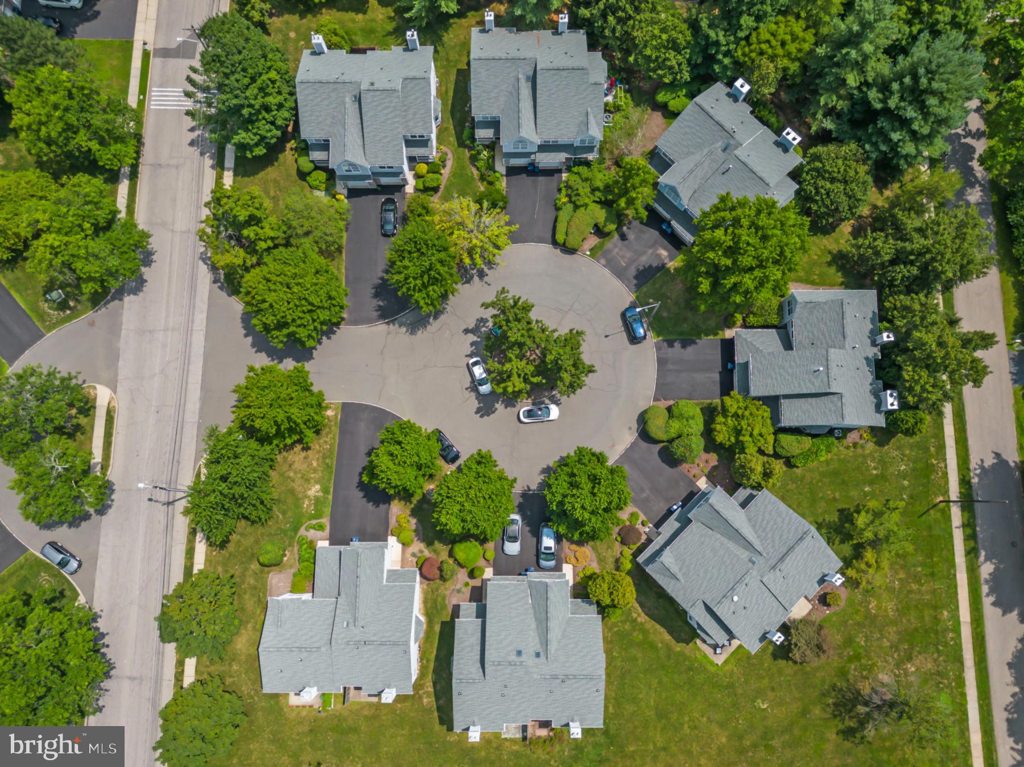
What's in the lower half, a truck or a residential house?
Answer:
residential house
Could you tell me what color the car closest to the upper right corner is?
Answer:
blue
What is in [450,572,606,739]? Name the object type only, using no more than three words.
house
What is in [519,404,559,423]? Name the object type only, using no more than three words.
car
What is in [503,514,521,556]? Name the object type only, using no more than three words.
car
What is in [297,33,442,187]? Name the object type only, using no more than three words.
house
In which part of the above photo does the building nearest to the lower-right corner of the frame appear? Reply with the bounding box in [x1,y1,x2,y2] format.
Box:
[634,485,843,654]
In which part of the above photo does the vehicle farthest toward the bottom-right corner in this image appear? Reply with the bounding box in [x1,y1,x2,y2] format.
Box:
[538,525,557,568]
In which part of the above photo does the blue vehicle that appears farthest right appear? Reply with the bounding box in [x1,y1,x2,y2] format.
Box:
[623,307,647,343]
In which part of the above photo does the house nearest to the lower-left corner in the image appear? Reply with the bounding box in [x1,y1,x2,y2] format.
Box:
[259,542,425,702]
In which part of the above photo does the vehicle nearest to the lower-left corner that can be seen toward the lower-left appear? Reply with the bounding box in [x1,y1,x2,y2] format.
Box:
[37,543,81,574]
